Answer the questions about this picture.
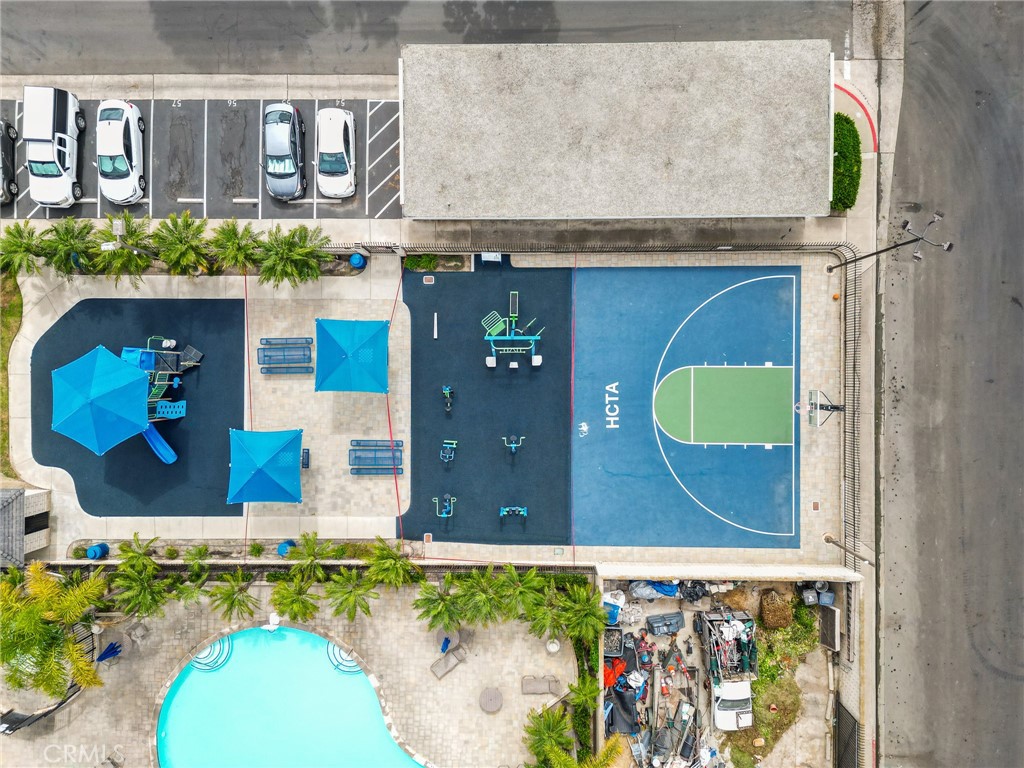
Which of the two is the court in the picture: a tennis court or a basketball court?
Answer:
basketball court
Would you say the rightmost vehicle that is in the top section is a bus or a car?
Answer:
car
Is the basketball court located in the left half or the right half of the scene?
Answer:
right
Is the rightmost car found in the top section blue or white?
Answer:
white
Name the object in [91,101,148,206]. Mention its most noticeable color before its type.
white car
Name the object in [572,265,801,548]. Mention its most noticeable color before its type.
blue basketball court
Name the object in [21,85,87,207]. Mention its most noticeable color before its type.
white truck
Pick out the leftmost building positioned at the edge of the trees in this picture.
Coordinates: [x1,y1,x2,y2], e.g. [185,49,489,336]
[0,487,48,569]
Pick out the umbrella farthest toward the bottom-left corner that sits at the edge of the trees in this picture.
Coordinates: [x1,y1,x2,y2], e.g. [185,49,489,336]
[98,643,119,661]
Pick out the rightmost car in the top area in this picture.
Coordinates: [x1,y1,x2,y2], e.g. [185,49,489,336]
[311,107,359,198]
